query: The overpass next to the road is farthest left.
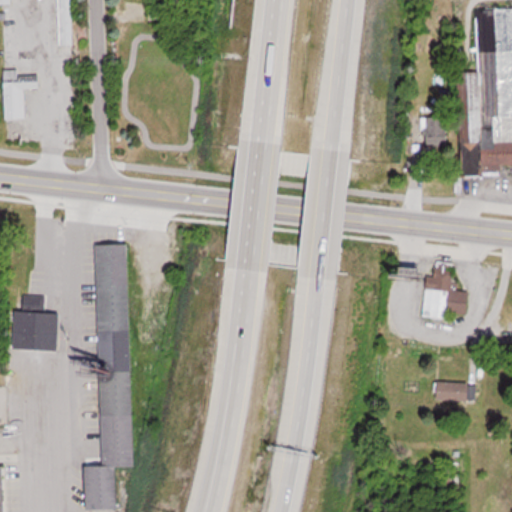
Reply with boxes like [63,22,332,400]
[224,140,282,272]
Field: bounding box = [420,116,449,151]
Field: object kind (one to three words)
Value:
house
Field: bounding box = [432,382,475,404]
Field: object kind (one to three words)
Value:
house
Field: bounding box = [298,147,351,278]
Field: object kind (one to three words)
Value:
overpass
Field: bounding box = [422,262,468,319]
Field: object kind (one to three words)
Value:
building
